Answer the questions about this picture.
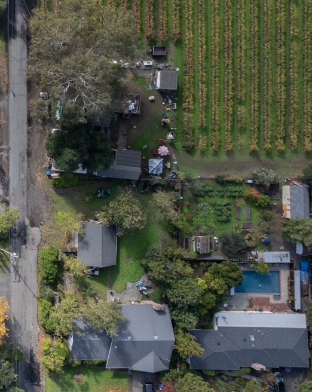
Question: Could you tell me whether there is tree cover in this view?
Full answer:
Yes, there's tree cover in this view.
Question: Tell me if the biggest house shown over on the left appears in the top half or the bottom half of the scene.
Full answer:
The biggest house shown over on the left sits in the bottom half of the picture.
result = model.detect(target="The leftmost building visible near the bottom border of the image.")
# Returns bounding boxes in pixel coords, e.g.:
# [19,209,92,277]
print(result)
[67,303,175,373]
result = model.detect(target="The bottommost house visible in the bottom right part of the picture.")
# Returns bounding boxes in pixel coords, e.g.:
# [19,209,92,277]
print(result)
[186,311,309,372]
